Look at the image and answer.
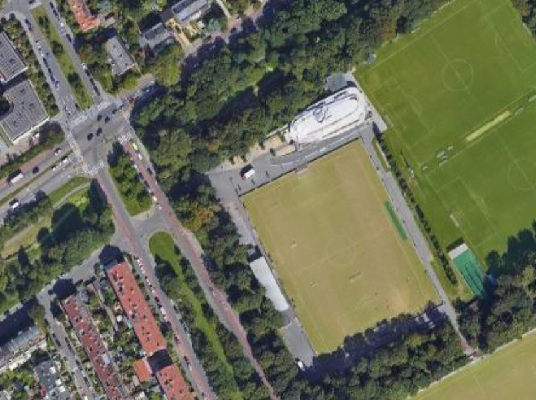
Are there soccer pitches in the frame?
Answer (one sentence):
Yes, the frame does contain a soccer pitch.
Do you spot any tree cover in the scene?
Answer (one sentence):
Yes, tree cover can be seen from above here.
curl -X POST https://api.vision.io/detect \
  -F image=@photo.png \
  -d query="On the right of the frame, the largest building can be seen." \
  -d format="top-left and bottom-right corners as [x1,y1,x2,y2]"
[291,87,366,142]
